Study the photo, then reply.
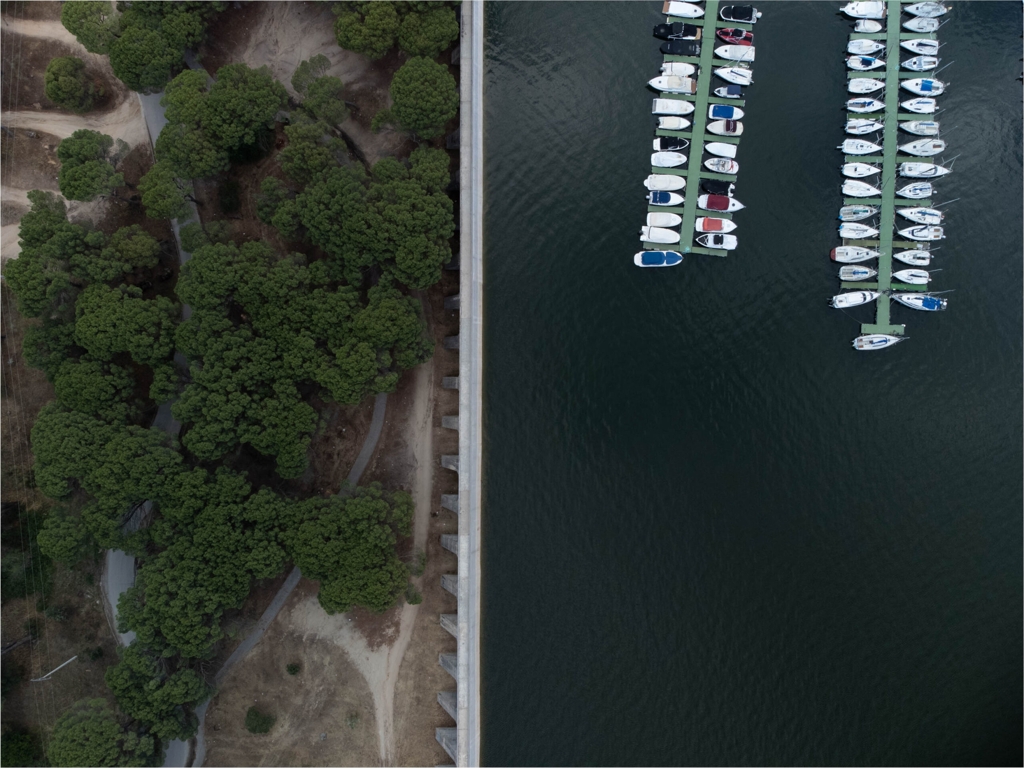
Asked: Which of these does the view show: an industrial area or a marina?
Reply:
marina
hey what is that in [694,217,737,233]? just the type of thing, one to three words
boat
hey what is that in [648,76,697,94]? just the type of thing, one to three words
boat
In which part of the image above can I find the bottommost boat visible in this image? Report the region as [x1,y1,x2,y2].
[852,334,913,349]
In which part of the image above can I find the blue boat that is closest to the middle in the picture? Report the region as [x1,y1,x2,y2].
[634,250,684,266]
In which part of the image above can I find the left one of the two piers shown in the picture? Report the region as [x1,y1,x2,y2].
[643,0,753,257]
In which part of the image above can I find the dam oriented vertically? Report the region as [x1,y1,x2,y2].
[434,0,484,768]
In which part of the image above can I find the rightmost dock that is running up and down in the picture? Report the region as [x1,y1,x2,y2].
[840,0,937,335]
